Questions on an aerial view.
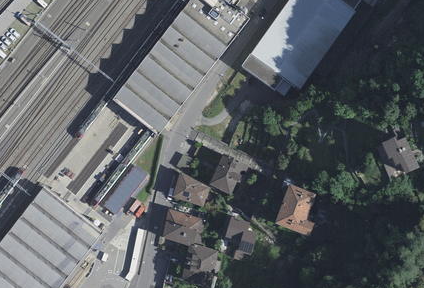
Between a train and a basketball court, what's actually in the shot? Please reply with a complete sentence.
The one in the frame is a train.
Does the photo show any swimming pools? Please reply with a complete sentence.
No, no swimming pool is visible in the scene.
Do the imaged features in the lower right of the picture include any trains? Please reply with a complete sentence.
No, I see no train in the lower right of the picture.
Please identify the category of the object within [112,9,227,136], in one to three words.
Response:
building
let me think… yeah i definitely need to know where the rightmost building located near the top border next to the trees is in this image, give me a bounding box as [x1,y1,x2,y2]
[242,0,360,96]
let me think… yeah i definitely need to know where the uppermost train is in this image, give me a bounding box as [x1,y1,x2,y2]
[76,84,116,138]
